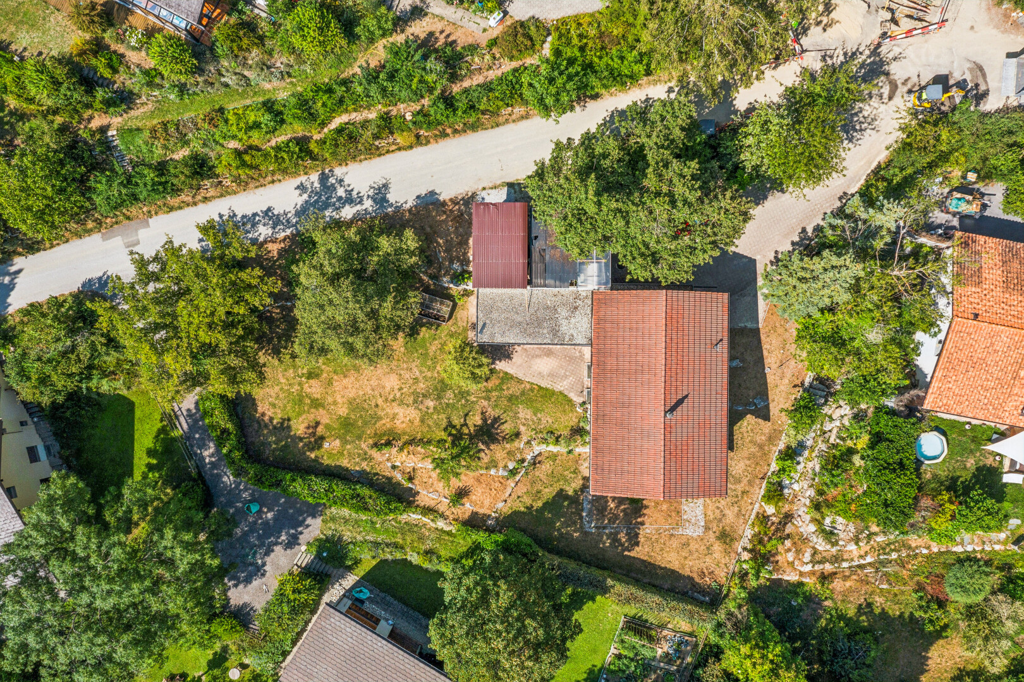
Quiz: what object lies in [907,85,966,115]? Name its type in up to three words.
work vehicle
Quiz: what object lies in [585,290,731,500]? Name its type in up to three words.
house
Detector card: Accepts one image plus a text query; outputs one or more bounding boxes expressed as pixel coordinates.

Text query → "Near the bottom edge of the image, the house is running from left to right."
[275,600,454,682]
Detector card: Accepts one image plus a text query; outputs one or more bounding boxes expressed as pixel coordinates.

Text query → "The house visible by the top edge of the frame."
[116,0,223,50]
